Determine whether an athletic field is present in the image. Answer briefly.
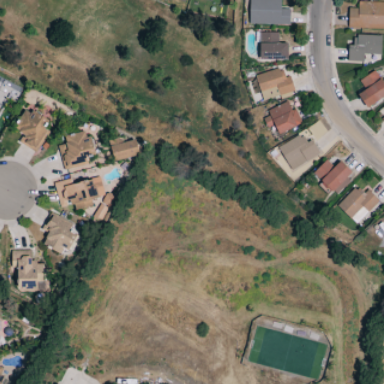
Yes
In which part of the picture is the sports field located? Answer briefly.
bottom right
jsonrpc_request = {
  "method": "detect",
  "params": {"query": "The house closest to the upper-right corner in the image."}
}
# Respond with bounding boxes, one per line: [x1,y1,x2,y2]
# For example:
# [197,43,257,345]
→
[349,0,384,28]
